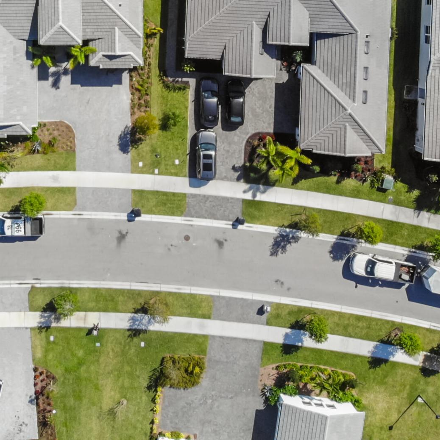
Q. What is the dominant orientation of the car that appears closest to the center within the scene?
up and down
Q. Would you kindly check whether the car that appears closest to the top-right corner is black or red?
black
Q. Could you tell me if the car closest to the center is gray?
Yes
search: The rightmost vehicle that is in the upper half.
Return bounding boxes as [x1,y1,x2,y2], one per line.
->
[225,79,249,128]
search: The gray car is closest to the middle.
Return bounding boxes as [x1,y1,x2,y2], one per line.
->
[196,129,219,181]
